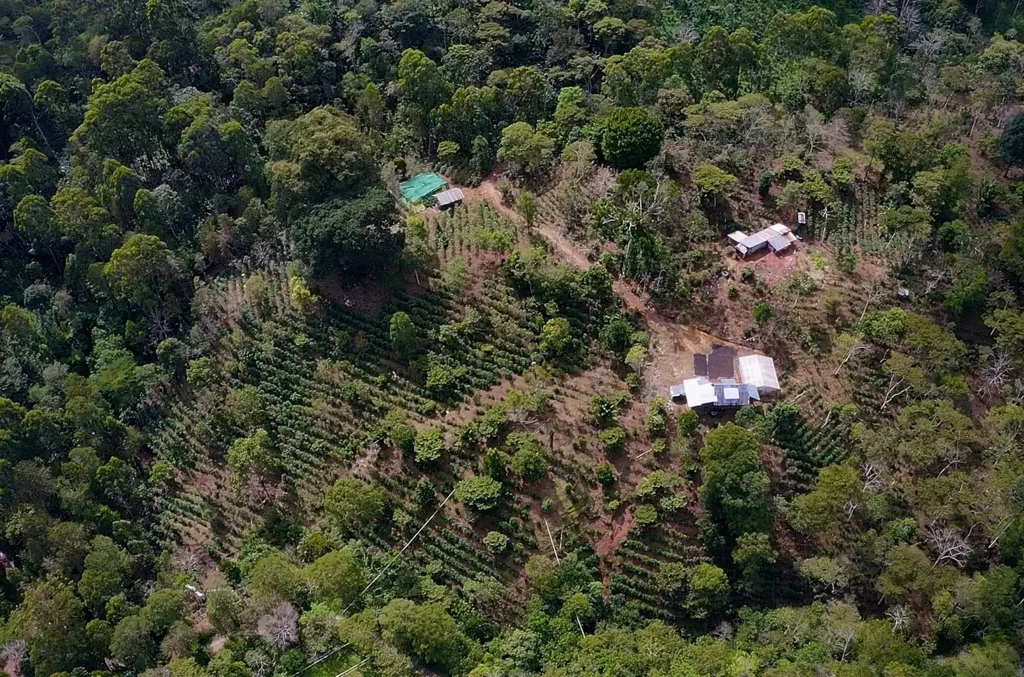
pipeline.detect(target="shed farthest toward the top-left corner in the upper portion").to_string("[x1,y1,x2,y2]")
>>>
[433,187,465,214]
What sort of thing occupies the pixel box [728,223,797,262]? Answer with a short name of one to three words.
house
